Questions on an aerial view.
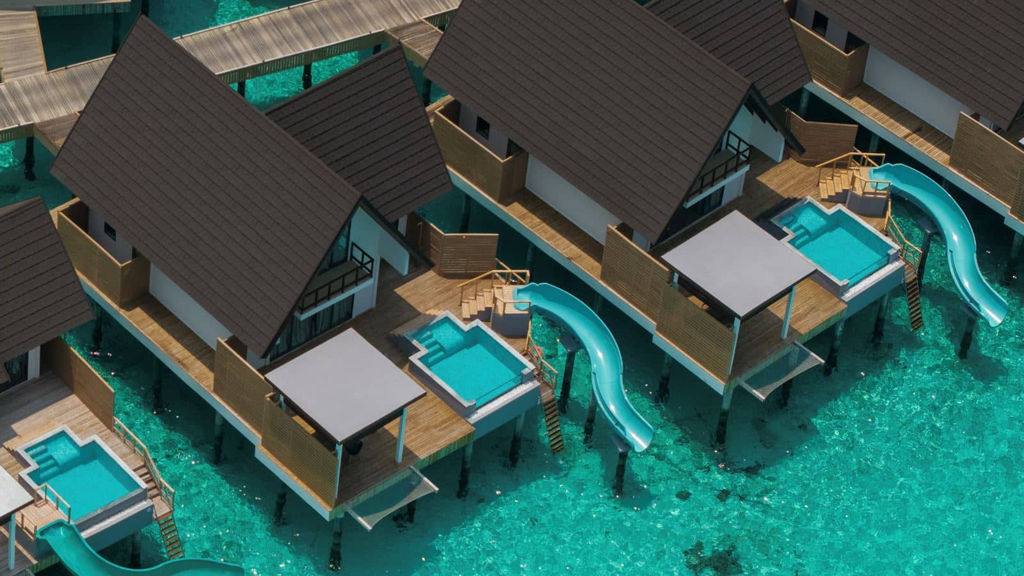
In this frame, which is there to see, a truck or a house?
house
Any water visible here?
Yes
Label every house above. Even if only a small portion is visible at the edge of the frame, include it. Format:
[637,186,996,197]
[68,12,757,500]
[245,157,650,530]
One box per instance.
[47,11,530,564]
[423,0,889,438]
[778,0,1024,280]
